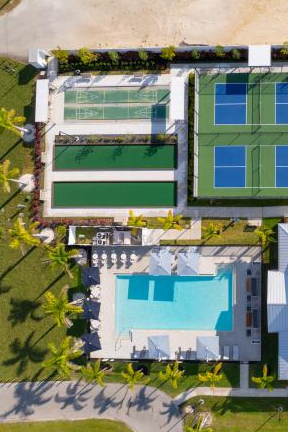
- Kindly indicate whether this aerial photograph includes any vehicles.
No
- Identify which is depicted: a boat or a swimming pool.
swimming pool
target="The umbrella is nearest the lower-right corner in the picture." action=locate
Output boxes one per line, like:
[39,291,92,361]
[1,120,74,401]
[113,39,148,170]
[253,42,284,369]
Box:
[196,336,219,359]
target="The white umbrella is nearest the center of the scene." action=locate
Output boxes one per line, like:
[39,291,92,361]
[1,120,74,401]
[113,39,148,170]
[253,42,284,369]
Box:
[148,250,173,275]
